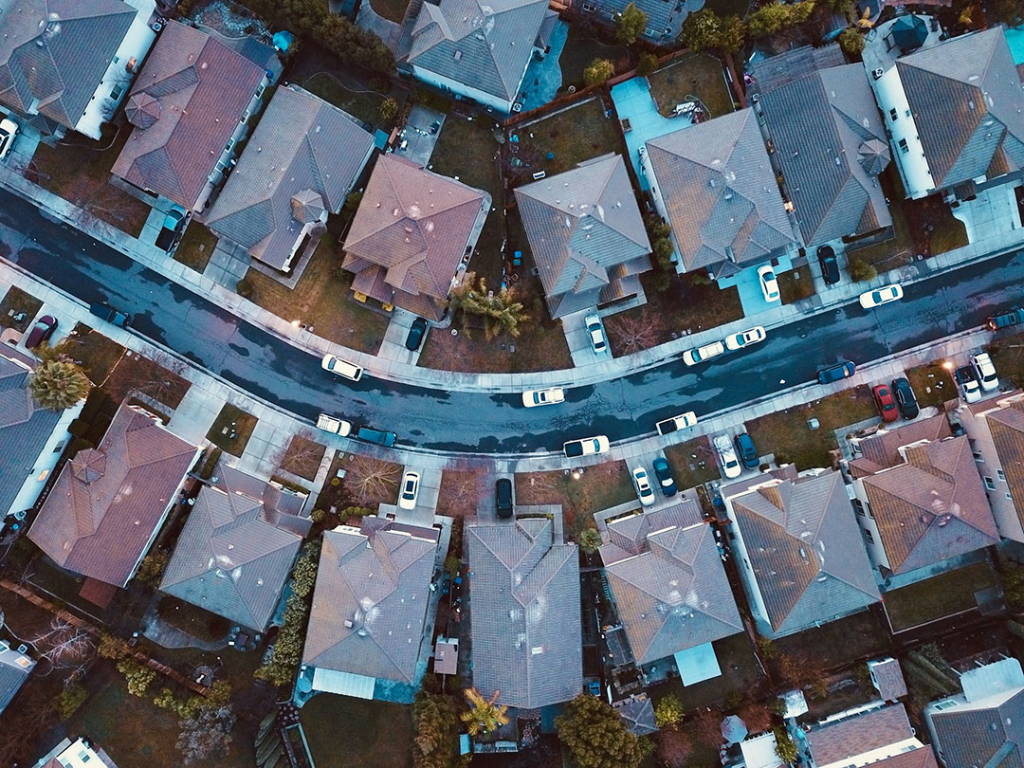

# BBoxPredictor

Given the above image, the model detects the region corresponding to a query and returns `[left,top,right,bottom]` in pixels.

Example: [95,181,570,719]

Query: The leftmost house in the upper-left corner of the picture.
[0,0,156,142]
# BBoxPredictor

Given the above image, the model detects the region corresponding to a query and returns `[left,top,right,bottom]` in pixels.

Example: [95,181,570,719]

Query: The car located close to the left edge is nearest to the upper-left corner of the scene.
[0,118,23,164]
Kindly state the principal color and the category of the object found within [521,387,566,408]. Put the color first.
white car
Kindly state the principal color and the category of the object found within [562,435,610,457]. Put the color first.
white truck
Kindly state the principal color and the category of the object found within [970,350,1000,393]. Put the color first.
white car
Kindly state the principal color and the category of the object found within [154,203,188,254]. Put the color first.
blue truck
